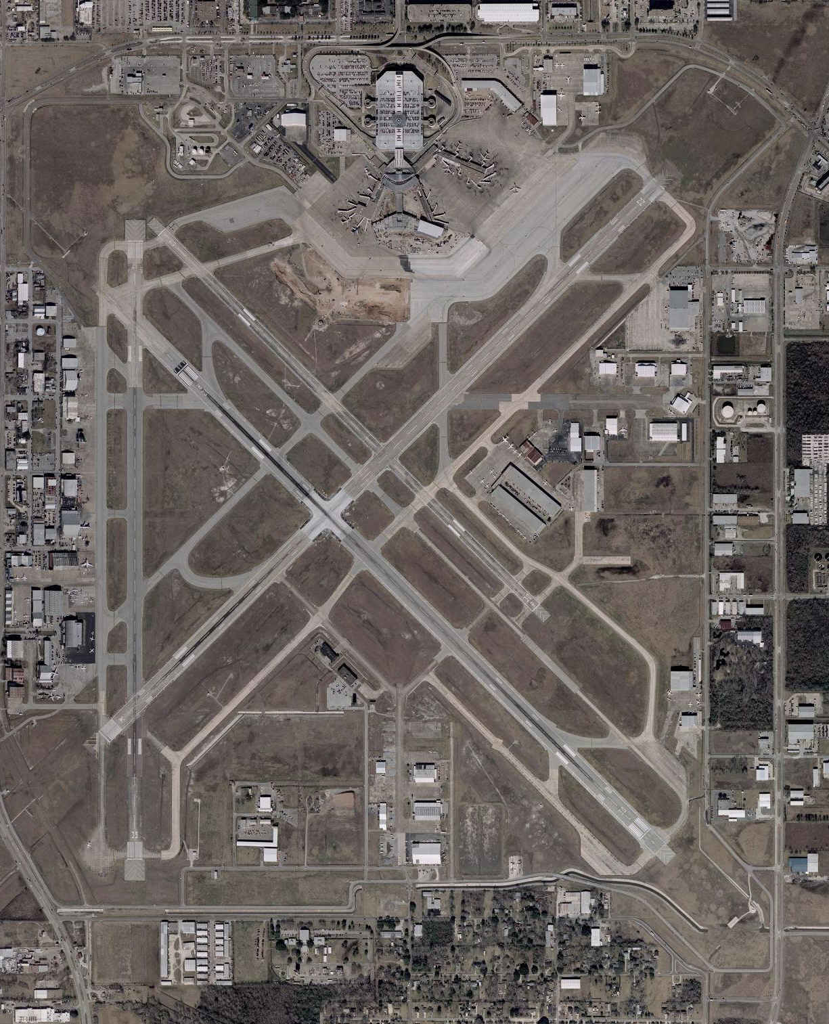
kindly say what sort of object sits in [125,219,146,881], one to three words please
runway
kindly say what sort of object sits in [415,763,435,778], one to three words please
hangar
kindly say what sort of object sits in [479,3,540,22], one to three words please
building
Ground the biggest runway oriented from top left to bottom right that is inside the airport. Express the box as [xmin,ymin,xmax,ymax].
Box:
[94,281,671,860]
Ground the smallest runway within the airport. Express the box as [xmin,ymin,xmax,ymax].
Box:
[140,210,547,619]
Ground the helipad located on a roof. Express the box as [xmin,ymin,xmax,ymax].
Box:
[392,113,406,127]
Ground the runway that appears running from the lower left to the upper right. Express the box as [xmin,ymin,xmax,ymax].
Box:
[81,172,669,745]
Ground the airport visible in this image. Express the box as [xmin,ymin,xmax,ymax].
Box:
[6,106,702,881]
